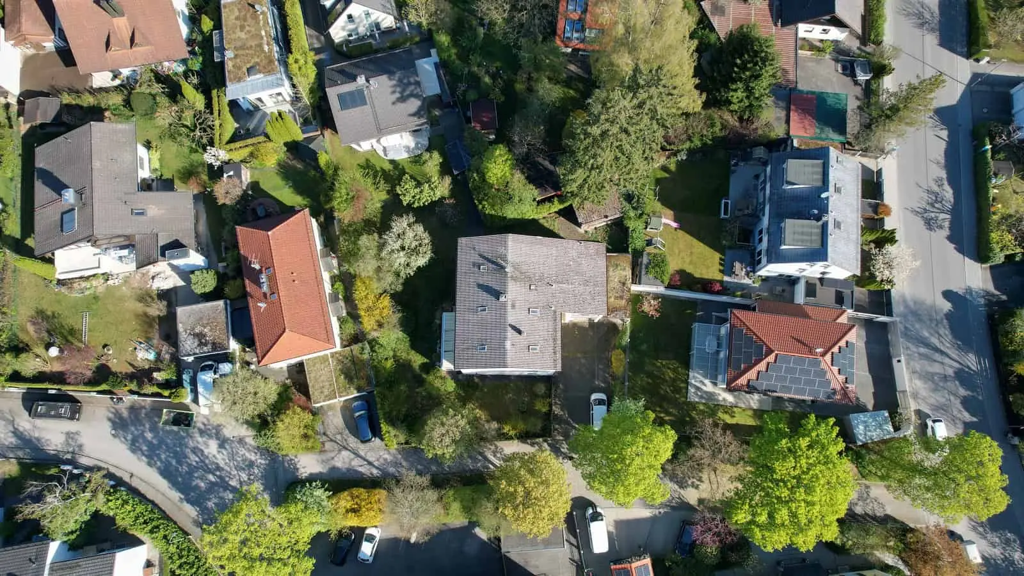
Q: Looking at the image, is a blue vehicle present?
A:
Yes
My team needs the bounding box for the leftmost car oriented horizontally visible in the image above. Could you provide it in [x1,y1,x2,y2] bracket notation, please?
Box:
[28,401,81,420]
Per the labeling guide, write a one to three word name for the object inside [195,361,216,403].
car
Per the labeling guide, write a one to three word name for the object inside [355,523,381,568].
car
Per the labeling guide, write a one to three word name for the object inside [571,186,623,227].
shed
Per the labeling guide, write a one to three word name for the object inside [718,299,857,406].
house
